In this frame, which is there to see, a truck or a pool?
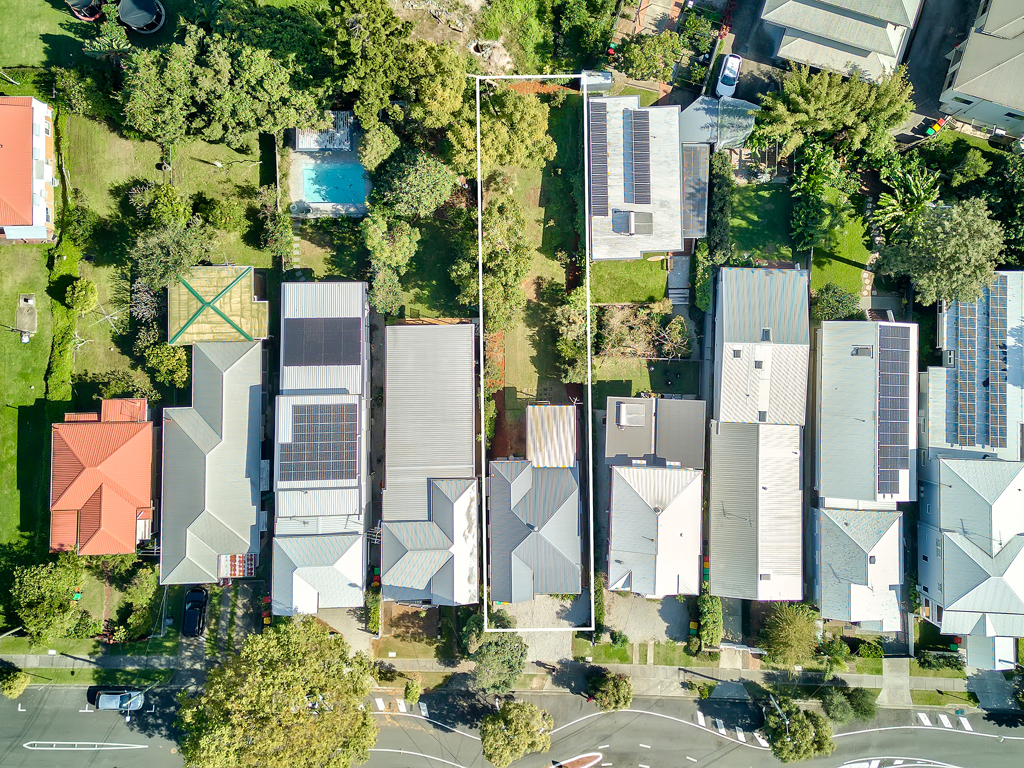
pool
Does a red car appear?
No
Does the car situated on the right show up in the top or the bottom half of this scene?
top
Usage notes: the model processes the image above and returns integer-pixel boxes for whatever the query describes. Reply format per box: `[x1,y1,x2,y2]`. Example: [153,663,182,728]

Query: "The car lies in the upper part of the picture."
[716,51,741,99]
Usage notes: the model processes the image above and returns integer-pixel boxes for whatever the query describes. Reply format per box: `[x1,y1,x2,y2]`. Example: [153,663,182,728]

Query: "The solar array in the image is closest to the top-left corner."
[284,317,360,365]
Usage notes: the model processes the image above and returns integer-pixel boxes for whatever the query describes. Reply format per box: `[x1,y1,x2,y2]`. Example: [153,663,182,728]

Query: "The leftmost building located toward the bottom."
[49,397,162,556]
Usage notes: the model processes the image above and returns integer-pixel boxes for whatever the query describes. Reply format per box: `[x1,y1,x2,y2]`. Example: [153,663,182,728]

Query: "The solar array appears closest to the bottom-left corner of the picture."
[279,404,357,481]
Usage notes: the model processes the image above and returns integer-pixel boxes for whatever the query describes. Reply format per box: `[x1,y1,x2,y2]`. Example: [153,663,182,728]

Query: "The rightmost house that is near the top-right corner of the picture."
[923,0,1024,135]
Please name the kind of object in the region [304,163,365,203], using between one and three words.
swimming pool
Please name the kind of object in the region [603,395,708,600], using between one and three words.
house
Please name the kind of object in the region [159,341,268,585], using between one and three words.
house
